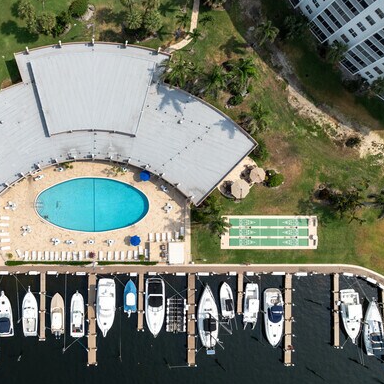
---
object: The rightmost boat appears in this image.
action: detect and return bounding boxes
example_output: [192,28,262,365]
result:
[361,300,384,355]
